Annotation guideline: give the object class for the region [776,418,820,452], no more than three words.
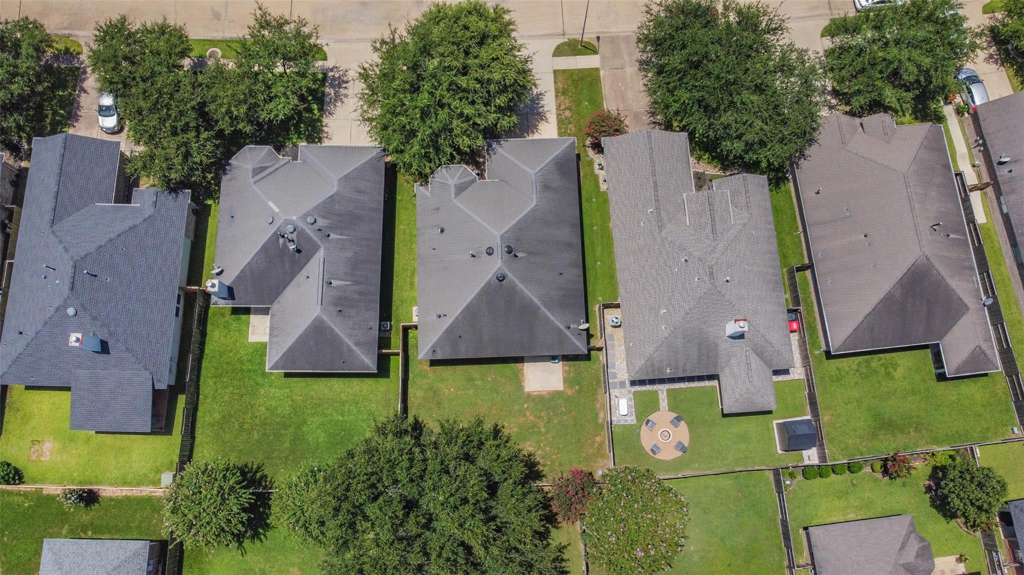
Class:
shed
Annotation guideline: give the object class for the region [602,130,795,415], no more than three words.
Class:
house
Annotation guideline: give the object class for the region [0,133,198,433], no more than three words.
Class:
house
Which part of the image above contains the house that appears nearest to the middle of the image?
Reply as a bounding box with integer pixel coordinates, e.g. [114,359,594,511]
[415,137,588,360]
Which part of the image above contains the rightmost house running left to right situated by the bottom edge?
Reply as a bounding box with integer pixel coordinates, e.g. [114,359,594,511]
[797,513,935,575]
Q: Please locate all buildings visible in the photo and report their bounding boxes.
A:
[958,89,1024,276]
[0,133,198,433]
[39,537,163,575]
[210,144,387,374]
[784,113,1001,378]
[776,418,820,452]
[602,130,795,415]
[797,513,935,575]
[0,152,24,299]
[415,137,588,360]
